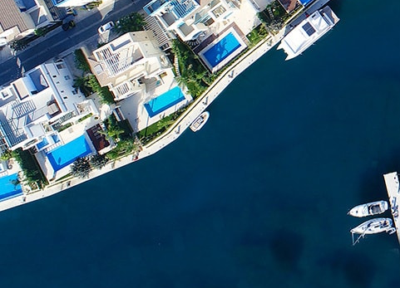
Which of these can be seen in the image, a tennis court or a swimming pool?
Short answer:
swimming pool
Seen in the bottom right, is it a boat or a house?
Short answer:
boat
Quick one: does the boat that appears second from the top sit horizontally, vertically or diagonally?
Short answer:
diagonally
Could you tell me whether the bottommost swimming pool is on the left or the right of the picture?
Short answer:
left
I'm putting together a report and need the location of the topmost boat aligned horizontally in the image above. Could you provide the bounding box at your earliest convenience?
[346,199,390,217]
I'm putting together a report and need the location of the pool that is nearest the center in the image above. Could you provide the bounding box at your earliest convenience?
[139,83,191,124]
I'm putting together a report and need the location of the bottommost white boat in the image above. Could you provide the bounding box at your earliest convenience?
[348,217,394,242]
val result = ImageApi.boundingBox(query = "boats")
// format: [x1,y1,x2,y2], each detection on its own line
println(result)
[346,199,390,217]
[348,217,394,242]
[276,5,343,62]
[191,112,214,133]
